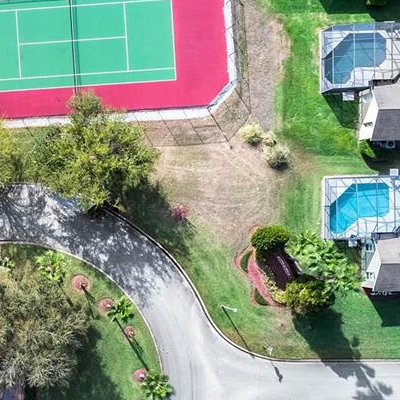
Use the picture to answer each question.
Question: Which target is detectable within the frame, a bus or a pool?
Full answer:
This aerial view contains a pool.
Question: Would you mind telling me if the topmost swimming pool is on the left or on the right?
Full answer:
It is on the right.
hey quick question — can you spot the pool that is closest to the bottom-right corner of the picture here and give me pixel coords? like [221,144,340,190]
[323,176,400,241]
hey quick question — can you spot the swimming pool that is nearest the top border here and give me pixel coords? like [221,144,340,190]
[319,25,399,95]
